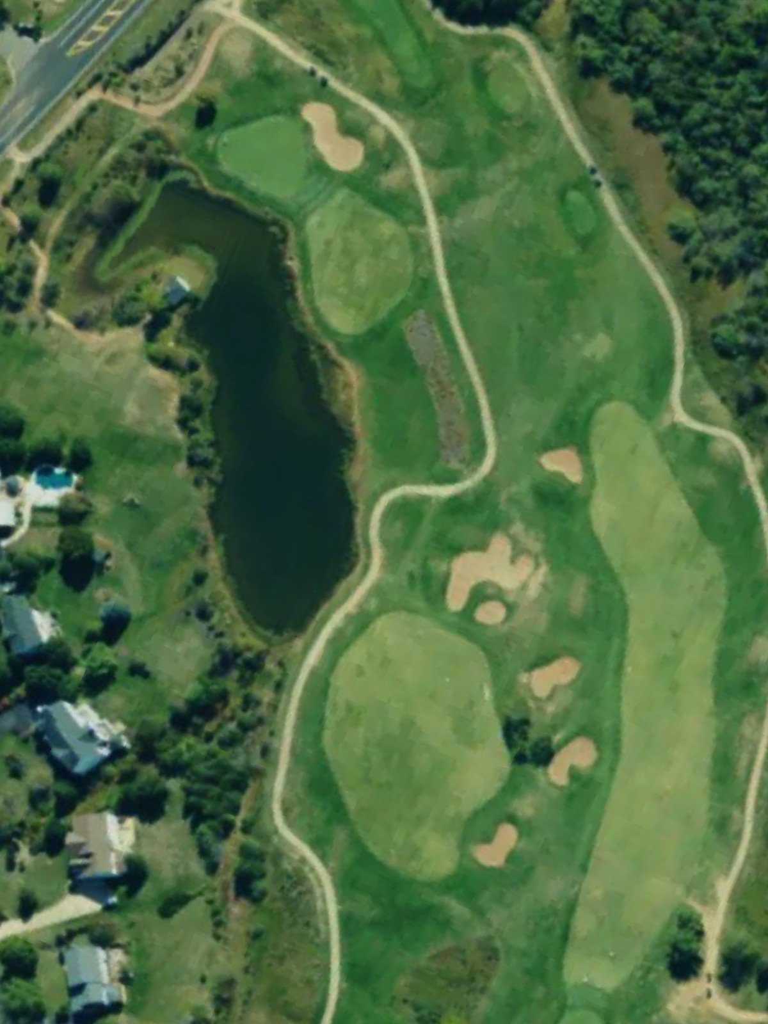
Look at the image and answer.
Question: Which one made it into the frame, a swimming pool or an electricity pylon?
swimming pool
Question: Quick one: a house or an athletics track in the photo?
house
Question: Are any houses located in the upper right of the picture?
No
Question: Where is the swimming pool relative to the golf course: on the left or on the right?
left of it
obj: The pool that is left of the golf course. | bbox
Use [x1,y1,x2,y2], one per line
[35,464,75,491]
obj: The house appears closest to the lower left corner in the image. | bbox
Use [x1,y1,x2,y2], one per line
[66,945,126,1015]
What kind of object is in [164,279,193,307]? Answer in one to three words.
shed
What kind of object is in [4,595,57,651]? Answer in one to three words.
house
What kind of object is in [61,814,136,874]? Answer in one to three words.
house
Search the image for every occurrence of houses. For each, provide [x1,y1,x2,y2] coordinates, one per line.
[4,595,57,651]
[0,499,20,526]
[61,814,136,874]
[66,945,126,1015]
[37,690,131,782]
